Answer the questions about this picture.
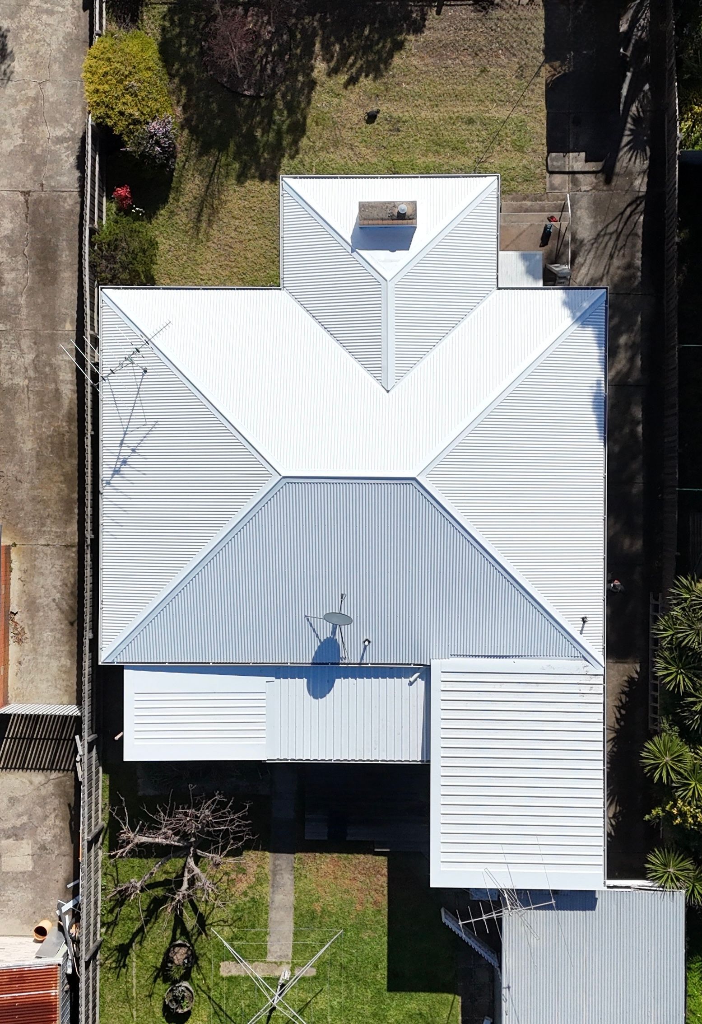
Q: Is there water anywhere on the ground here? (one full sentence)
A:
No, the scene doesn't show any water.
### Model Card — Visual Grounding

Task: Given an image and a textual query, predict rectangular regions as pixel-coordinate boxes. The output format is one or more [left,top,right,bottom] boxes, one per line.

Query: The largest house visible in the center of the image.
[97,172,610,888]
